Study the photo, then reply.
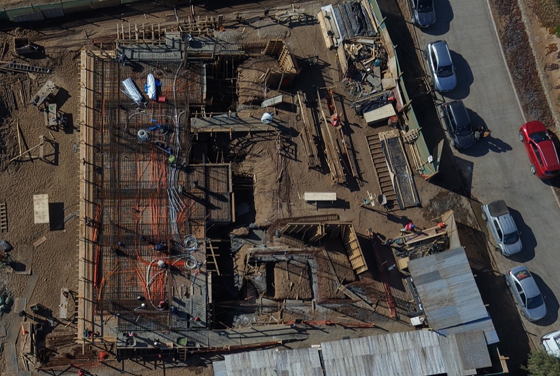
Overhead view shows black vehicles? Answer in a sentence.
Yes, the picture does show a black vehicle.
